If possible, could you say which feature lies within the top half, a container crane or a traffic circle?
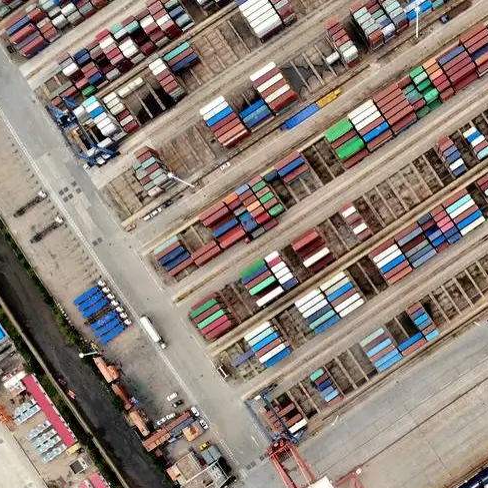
container crane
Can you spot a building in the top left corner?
No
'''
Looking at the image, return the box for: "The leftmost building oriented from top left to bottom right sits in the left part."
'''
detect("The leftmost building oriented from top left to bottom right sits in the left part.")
[21,374,76,448]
